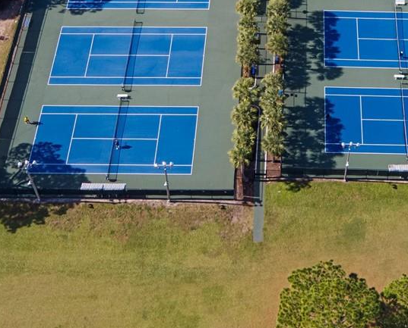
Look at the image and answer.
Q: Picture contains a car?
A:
No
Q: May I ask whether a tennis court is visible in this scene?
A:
Yes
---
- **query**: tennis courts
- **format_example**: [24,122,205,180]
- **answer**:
[66,0,211,9]
[27,98,199,176]
[324,5,408,70]
[47,21,206,89]
[325,82,408,157]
